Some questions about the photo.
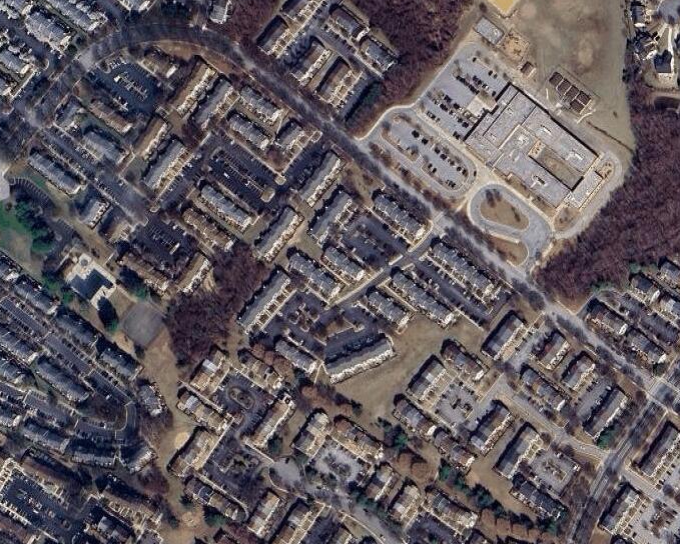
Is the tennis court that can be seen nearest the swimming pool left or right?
left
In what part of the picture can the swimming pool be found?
left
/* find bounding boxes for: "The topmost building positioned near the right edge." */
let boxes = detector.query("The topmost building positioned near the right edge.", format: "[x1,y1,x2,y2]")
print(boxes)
[626,2,653,25]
